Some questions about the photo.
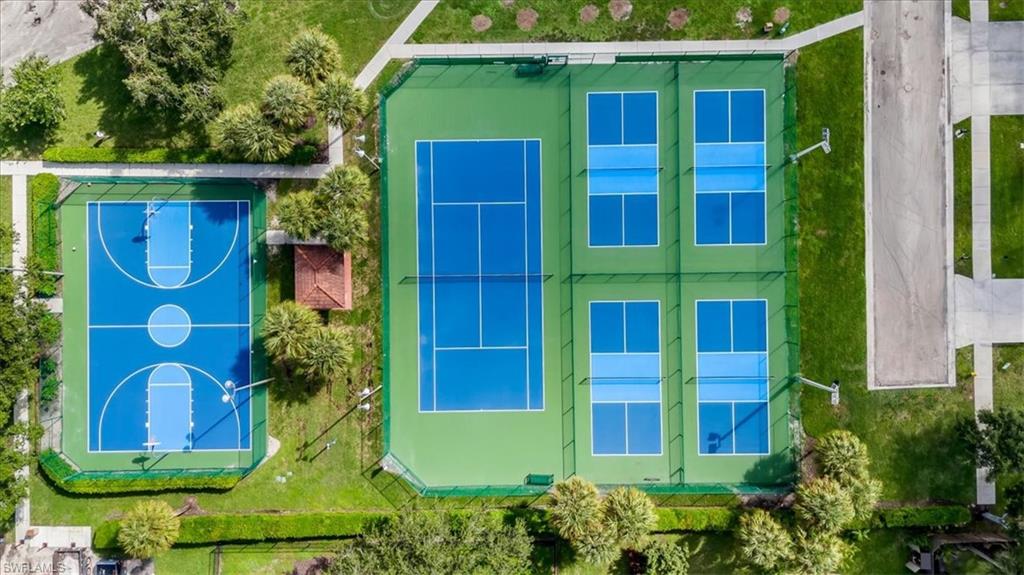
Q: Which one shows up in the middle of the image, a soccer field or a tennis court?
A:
tennis court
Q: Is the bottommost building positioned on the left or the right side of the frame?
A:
left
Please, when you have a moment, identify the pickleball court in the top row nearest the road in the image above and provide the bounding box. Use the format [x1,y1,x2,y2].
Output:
[677,63,786,272]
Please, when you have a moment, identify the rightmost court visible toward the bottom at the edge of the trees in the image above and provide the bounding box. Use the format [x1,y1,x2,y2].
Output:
[679,272,787,489]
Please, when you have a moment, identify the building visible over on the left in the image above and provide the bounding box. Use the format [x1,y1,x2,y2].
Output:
[294,245,350,310]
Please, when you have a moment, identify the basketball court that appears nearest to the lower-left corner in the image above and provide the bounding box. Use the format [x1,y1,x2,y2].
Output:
[60,180,268,472]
